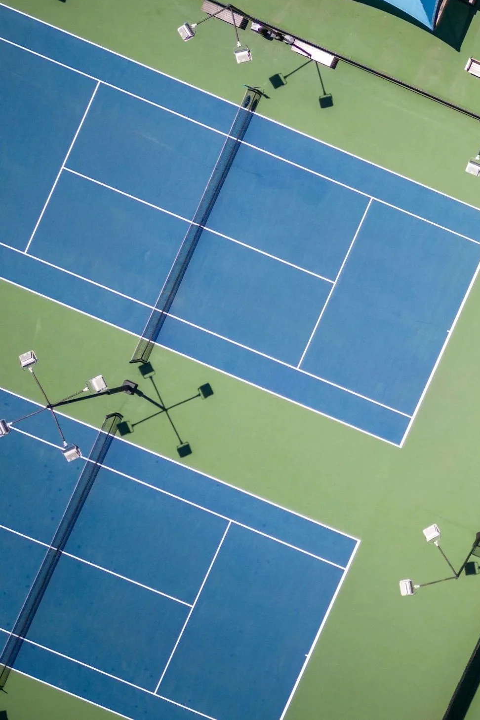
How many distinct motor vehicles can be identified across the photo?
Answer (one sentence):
There are no motor vehicles in the image.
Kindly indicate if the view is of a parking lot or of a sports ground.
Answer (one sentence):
What you see here is a sports ground.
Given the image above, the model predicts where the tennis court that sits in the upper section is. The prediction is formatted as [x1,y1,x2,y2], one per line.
[0,5,480,449]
